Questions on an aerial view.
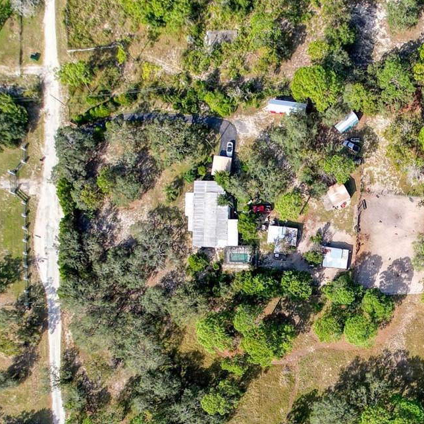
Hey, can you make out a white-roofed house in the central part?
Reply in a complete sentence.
Yes, you'll find a white-roofed house in the central part.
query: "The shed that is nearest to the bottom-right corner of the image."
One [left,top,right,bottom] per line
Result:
[323,247,349,270]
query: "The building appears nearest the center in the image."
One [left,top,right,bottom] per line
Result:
[185,180,240,249]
